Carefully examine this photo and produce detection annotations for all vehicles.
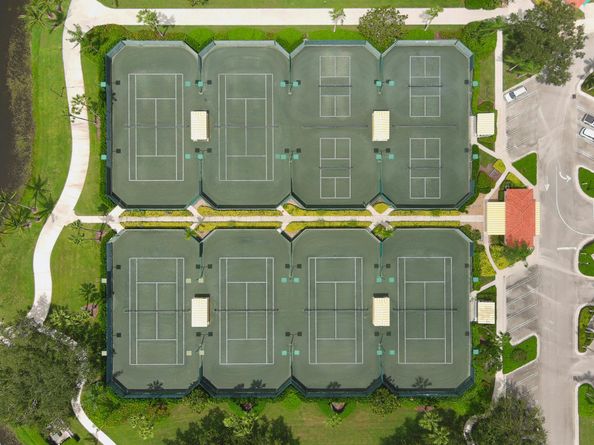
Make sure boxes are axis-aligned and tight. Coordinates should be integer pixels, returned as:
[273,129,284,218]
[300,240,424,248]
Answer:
[580,112,594,128]
[578,128,594,146]
[501,85,528,103]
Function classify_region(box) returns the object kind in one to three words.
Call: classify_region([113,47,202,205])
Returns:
tennis court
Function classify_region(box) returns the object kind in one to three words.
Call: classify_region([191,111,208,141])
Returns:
building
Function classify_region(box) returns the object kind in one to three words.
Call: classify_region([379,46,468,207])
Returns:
sports court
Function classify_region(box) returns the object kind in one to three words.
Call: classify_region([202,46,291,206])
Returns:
tennis court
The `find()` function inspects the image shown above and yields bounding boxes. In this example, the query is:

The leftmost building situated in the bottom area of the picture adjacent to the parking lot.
[475,301,494,324]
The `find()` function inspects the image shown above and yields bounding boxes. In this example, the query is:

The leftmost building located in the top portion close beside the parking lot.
[474,113,494,138]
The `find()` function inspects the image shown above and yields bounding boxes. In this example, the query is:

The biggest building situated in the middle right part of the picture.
[483,188,540,249]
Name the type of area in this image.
sports ground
